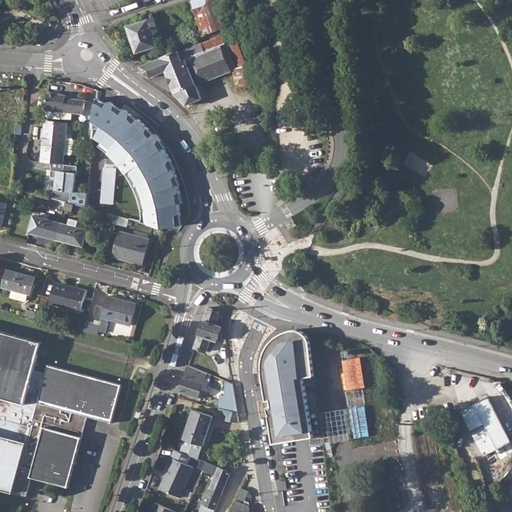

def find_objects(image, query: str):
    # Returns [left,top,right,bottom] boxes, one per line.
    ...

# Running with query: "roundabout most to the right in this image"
[179,213,259,293]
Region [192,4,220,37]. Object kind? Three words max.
shed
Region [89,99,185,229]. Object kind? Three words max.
building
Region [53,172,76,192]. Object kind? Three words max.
house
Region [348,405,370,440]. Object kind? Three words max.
greenhouse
